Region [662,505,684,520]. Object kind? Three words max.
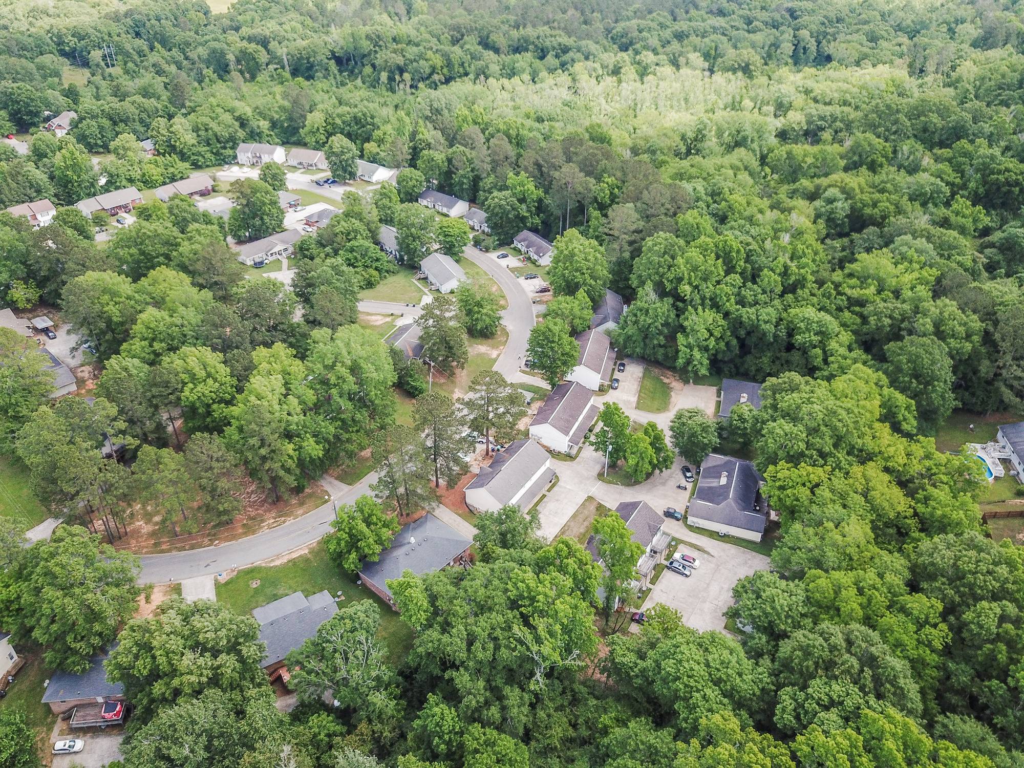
car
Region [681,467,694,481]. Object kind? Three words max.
vehicle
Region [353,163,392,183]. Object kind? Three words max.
house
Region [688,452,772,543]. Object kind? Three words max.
house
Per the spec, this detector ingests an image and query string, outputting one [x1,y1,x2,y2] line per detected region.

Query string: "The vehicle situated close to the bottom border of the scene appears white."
[52,738,84,755]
